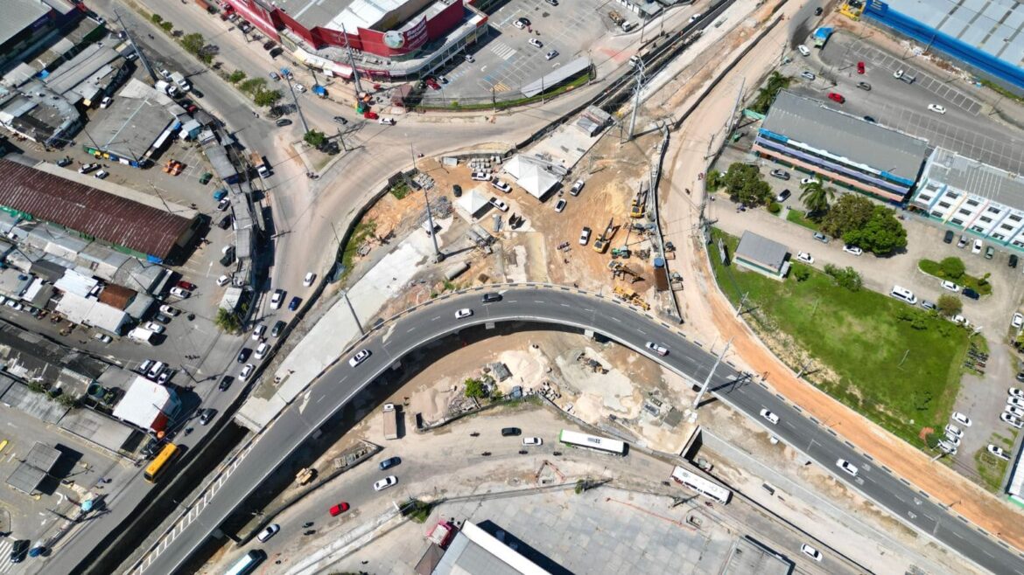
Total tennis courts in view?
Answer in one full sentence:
The photo contains no tennis courts.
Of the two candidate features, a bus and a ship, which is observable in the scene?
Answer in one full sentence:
Visible in the photo is a bus.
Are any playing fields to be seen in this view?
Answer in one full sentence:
Yes, there's a playing field down there.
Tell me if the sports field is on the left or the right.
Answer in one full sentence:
The sports field sits on the right side.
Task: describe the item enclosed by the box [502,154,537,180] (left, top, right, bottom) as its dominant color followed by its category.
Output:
white tent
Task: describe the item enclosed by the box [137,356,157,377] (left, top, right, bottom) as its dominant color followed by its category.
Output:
gray vehicle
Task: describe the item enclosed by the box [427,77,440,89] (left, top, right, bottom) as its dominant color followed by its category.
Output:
red vehicle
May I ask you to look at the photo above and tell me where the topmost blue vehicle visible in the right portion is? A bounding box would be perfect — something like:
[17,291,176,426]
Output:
[815,24,834,44]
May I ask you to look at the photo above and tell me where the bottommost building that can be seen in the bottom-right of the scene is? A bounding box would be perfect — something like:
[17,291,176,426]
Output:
[722,536,793,575]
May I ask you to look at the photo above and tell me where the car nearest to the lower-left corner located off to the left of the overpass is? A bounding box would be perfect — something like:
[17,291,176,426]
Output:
[10,538,31,565]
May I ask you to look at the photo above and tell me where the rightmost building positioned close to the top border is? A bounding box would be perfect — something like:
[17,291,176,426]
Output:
[855,0,1024,103]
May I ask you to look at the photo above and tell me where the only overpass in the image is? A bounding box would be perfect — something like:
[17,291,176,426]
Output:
[124,284,1024,575]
